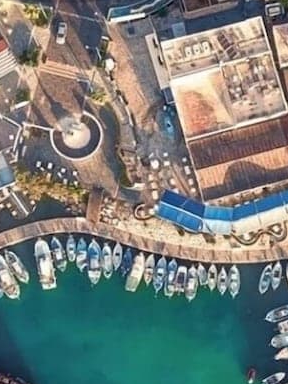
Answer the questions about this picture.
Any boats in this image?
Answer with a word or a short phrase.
Yes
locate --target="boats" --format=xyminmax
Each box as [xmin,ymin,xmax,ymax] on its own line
[111,238,122,272]
[75,231,87,274]
[275,318,288,334]
[49,234,65,273]
[102,235,113,279]
[174,258,187,295]
[144,252,156,286]
[260,262,273,294]
[185,260,198,302]
[217,263,227,296]
[33,235,57,293]
[261,372,285,384]
[123,247,145,294]
[271,260,284,290]
[270,330,288,346]
[66,234,76,262]
[228,264,241,299]
[265,304,288,321]
[275,346,288,361]
[208,261,218,291]
[165,257,177,297]
[121,245,132,277]
[152,253,167,293]
[0,257,20,300]
[2,249,29,283]
[196,261,210,287]
[87,235,102,286]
